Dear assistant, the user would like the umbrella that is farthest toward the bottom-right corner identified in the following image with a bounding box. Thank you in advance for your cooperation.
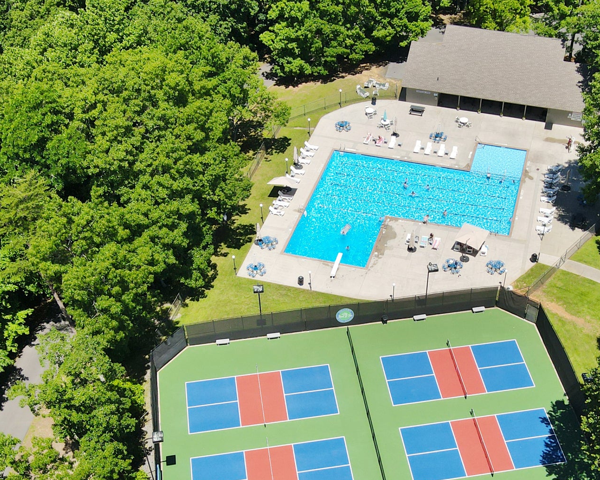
[453,223,490,263]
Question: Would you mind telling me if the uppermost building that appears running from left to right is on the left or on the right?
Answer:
right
